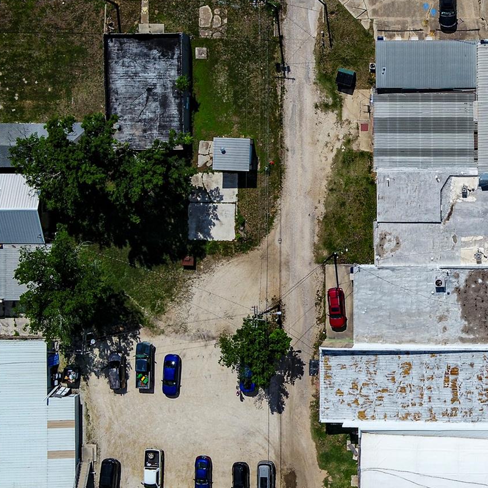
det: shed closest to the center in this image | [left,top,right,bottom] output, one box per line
[212,138,255,171]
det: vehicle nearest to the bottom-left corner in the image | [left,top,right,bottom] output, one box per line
[99,457,119,488]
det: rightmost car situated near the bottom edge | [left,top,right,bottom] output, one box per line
[258,458,276,488]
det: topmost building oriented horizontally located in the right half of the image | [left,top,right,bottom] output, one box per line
[375,40,477,90]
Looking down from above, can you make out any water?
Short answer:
No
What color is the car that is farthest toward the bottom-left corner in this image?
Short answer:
black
